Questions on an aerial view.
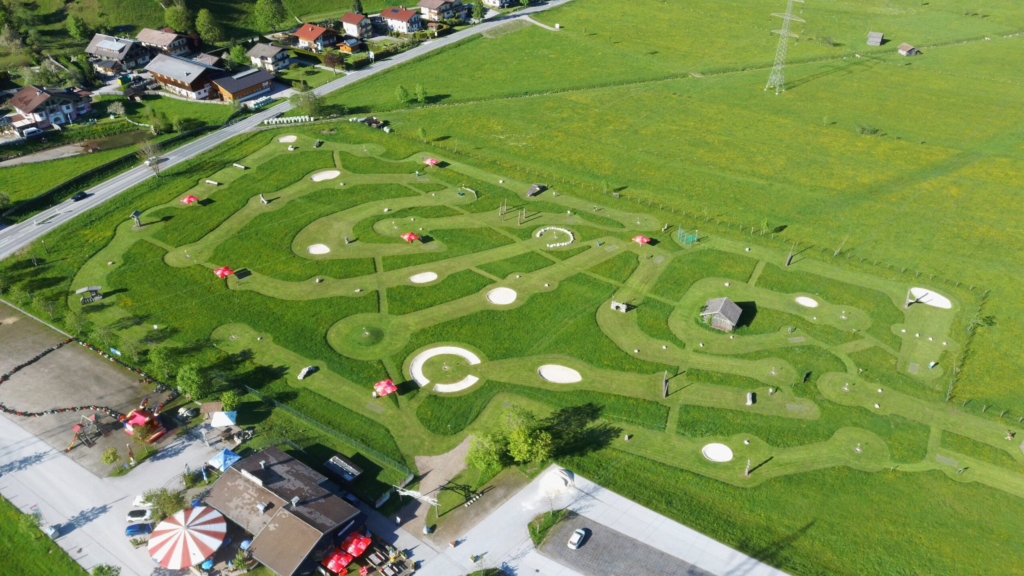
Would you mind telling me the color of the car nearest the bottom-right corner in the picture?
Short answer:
white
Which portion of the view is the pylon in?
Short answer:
top right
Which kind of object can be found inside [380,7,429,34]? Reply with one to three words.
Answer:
house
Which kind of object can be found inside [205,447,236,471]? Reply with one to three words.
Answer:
tent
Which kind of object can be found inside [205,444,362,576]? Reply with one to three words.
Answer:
building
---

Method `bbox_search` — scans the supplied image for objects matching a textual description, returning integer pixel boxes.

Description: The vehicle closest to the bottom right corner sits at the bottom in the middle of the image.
[566,526,586,551]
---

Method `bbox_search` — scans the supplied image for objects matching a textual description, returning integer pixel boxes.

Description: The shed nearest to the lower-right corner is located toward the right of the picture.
[699,295,743,332]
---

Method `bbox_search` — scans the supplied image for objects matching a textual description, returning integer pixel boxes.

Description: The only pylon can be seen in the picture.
[762,0,805,94]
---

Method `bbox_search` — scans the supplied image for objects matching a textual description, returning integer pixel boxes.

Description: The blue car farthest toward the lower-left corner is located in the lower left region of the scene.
[120,523,154,538]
